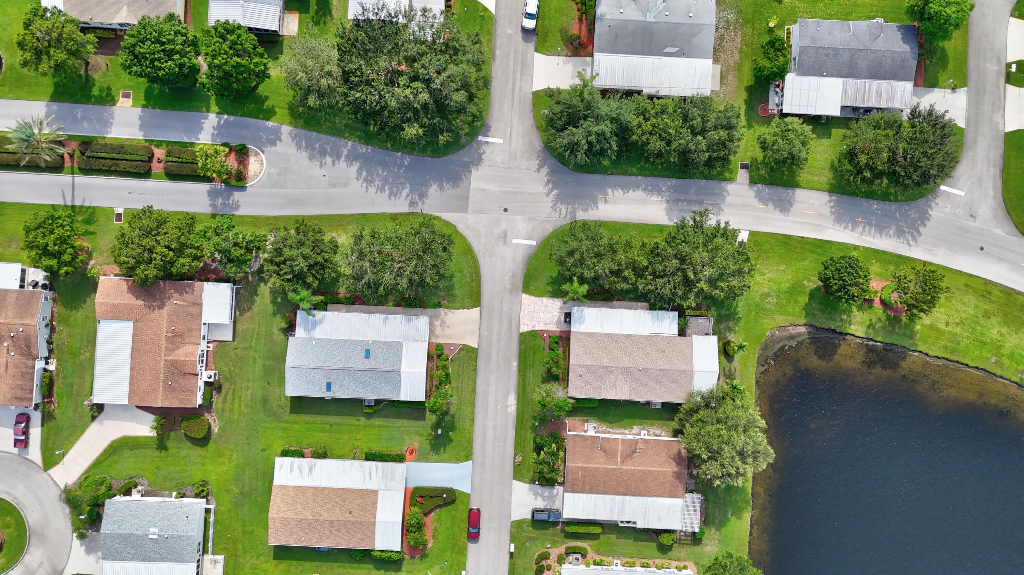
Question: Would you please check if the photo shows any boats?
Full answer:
No, there appears to be no boat in this shot.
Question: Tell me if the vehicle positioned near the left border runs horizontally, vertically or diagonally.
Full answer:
In this picture, the vehicle positioned near the left border lies vertically.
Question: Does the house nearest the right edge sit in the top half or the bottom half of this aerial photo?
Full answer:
Seen from above, the house nearest the right edge lies in the top half of the view.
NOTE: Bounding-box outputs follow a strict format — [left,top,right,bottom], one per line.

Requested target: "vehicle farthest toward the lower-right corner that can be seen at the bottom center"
[530,508,562,524]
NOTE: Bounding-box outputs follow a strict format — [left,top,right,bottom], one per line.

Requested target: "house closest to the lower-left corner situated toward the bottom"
[96,490,206,575]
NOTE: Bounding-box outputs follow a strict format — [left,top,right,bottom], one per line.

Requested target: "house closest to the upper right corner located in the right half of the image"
[782,18,919,116]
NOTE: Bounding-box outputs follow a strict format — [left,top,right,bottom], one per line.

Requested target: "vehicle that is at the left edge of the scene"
[12,407,32,444]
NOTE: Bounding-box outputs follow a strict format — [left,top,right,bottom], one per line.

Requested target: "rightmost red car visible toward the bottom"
[467,507,481,540]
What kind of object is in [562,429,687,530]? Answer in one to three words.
house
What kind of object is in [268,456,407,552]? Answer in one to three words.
house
